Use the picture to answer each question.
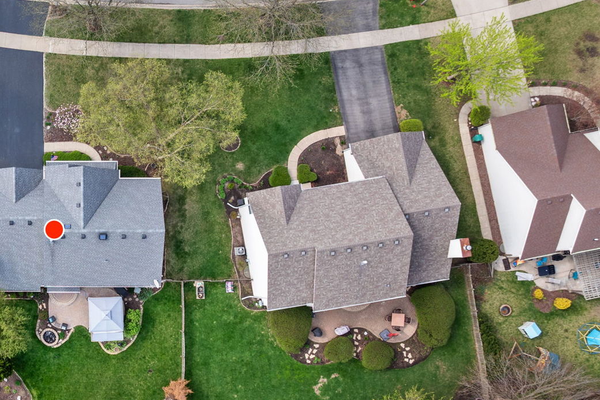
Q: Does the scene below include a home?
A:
Yes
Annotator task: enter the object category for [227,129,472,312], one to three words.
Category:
house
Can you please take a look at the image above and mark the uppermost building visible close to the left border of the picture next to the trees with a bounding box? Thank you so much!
[0,159,165,295]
